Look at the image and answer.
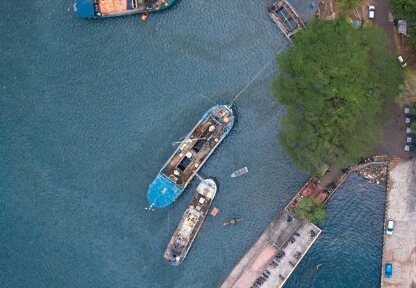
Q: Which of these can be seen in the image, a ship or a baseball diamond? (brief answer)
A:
ship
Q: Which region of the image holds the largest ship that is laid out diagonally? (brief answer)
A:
center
